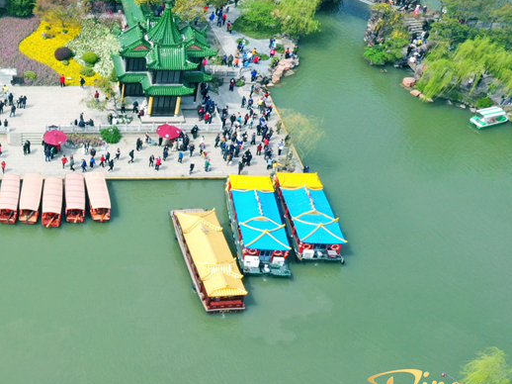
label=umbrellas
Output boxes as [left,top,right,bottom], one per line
[154,124,183,151]
[39,129,68,154]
